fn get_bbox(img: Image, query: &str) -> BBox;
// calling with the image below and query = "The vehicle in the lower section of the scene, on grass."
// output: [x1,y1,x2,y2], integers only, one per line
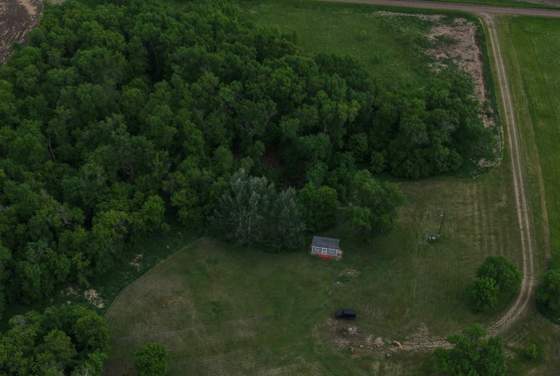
[334,307,357,320]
